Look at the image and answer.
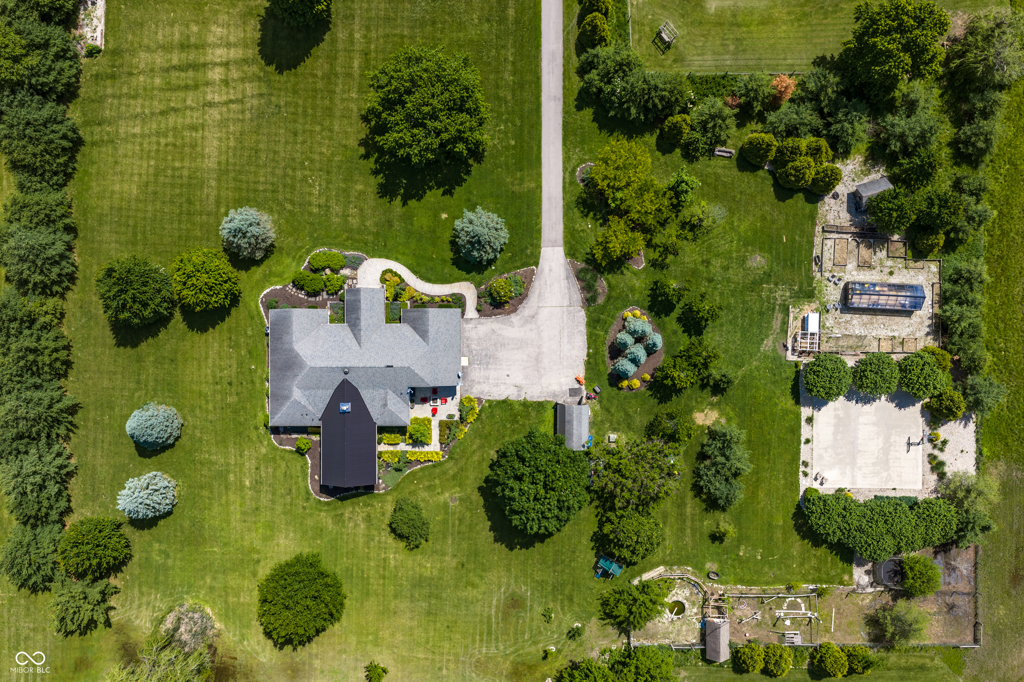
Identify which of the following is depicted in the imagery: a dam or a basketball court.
basketball court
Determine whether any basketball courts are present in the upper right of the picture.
No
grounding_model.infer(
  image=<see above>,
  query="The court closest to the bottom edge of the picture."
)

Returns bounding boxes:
[812,379,922,489]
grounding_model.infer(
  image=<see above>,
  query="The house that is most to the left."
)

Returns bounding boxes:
[269,288,461,488]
